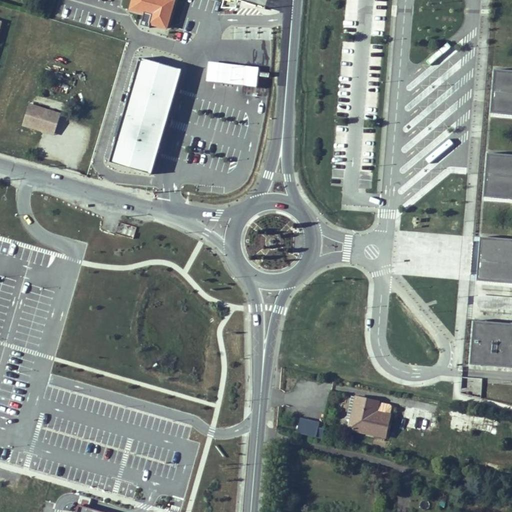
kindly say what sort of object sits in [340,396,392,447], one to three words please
house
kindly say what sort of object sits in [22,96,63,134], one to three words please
barn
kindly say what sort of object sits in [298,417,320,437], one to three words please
shed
